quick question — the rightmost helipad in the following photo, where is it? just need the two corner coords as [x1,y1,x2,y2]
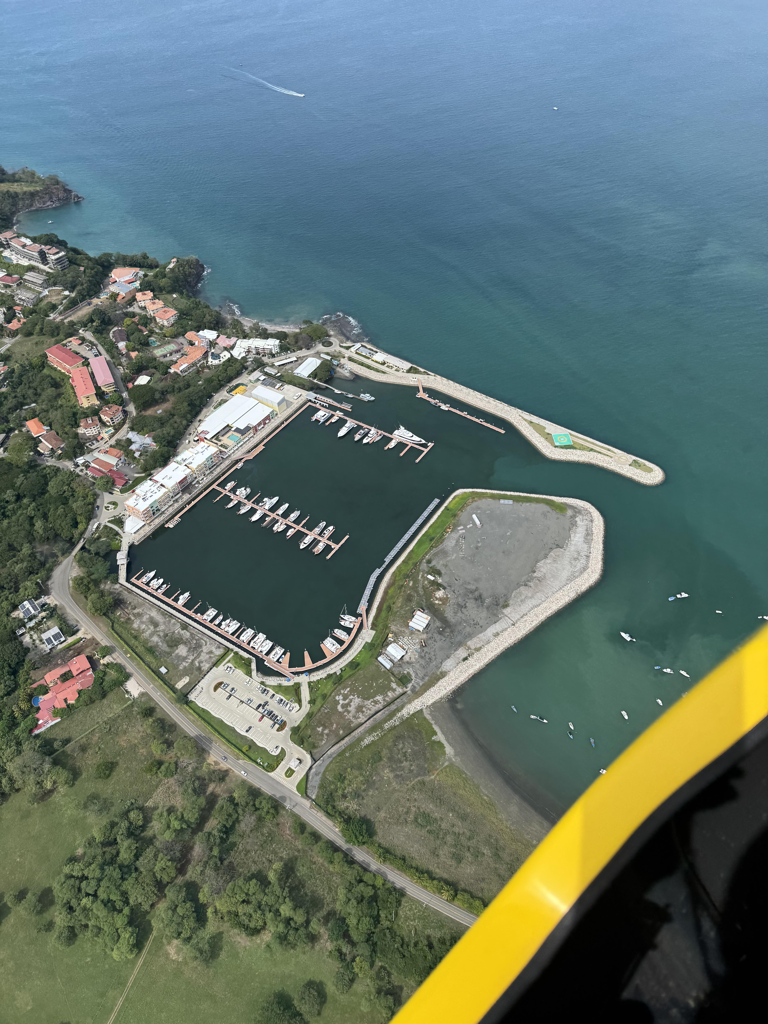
[613,453,633,466]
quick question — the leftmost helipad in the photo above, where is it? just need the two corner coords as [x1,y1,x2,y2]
[552,433,573,446]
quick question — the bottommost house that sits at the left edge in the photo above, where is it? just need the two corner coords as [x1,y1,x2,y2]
[28,654,95,739]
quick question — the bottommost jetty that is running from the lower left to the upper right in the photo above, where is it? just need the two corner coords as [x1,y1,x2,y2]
[287,617,363,673]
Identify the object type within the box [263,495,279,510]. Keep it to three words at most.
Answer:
boat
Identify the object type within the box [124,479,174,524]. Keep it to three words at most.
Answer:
building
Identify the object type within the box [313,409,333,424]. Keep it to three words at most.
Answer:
boat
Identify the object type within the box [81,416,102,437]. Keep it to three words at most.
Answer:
house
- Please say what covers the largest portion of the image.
water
